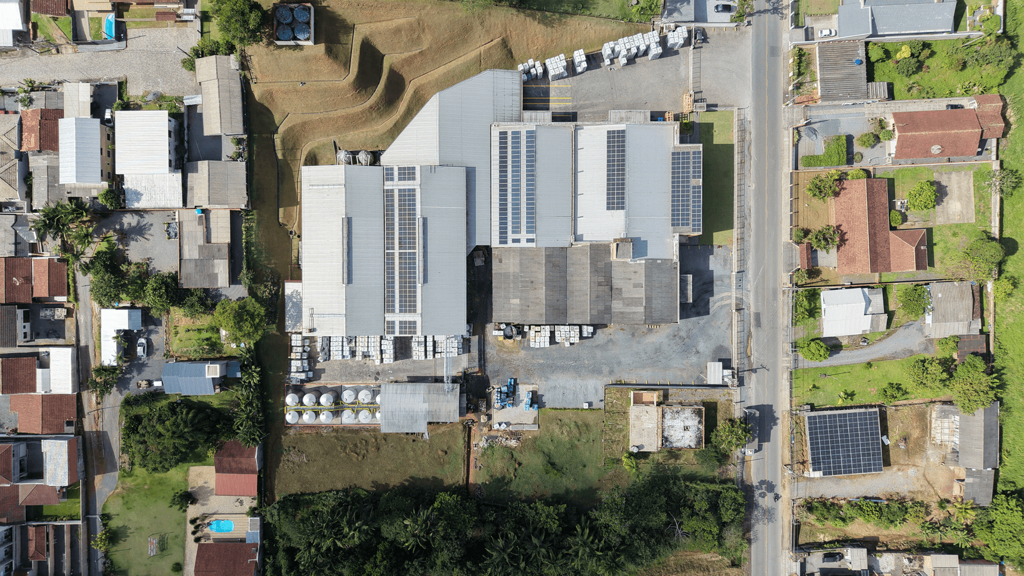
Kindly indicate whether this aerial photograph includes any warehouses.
Yes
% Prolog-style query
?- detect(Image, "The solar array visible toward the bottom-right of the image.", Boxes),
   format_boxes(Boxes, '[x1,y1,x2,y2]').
[806,410,883,476]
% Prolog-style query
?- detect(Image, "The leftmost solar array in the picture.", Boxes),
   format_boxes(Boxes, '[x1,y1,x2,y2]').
[386,166,417,335]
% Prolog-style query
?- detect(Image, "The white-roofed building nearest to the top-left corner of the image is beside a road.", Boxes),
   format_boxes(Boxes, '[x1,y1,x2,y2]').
[0,2,37,51]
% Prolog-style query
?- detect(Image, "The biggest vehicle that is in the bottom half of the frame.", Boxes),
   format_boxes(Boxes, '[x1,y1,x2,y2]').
[741,406,757,454]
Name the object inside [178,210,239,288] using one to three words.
building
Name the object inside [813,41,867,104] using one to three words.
barn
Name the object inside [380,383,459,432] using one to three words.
shed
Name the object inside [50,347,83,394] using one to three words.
house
